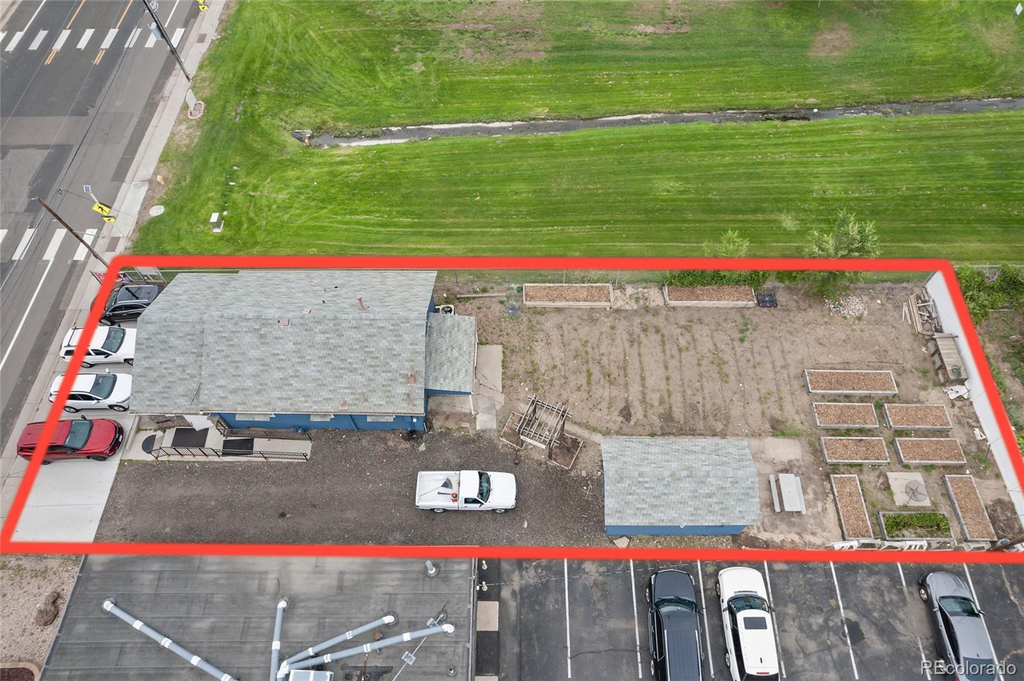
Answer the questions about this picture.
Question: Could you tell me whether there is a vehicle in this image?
Yes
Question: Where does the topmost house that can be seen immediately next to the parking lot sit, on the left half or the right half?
left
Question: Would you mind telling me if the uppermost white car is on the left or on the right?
left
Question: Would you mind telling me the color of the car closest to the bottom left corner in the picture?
red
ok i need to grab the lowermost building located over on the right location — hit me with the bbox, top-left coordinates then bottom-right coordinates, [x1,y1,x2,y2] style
[599,437,760,537]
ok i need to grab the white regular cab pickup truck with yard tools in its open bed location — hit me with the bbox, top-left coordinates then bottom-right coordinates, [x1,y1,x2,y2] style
[412,465,520,514]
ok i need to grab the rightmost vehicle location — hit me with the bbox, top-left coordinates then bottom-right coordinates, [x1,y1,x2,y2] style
[919,572,998,681]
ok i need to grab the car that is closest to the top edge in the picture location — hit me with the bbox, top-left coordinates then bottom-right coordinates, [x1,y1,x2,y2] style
[93,281,168,326]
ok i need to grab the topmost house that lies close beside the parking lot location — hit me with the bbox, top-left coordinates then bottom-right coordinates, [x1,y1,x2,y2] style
[130,267,479,436]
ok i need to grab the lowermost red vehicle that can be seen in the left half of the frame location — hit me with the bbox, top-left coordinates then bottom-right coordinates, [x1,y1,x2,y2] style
[20,416,123,465]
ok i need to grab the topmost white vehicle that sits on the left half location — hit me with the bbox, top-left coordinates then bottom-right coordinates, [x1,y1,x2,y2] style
[65,329,139,369]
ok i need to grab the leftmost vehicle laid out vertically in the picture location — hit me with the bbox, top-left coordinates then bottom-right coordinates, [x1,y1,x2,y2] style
[645,570,704,681]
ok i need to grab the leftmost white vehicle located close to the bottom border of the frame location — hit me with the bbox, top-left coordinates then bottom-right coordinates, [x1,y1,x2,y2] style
[716,568,780,681]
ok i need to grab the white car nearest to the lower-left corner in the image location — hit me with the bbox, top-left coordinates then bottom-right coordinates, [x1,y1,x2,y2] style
[50,371,135,413]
